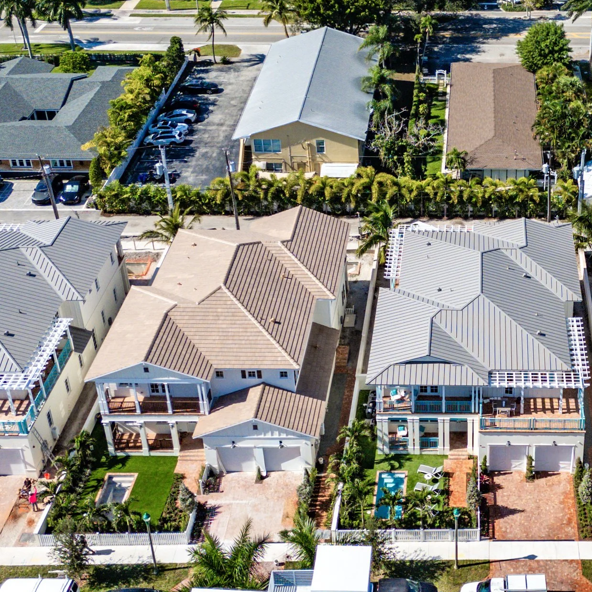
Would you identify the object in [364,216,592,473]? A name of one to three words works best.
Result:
house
